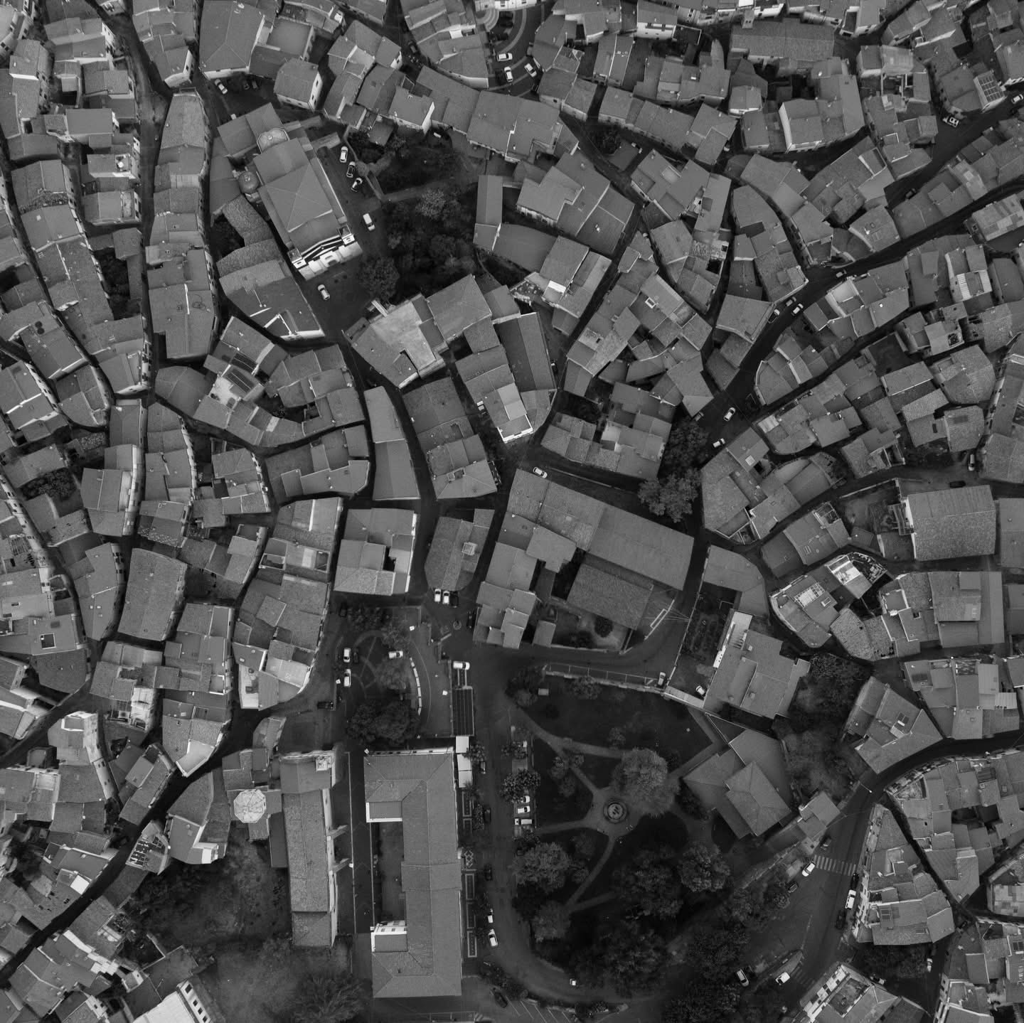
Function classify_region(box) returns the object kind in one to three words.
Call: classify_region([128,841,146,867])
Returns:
solar panel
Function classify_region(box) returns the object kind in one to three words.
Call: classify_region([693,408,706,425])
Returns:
vehicle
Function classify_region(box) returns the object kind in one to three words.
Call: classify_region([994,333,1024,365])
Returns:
house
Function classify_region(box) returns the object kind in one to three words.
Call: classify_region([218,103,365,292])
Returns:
church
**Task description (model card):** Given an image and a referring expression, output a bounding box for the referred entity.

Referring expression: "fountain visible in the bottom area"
[607,803,624,821]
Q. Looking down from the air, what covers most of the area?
buildings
